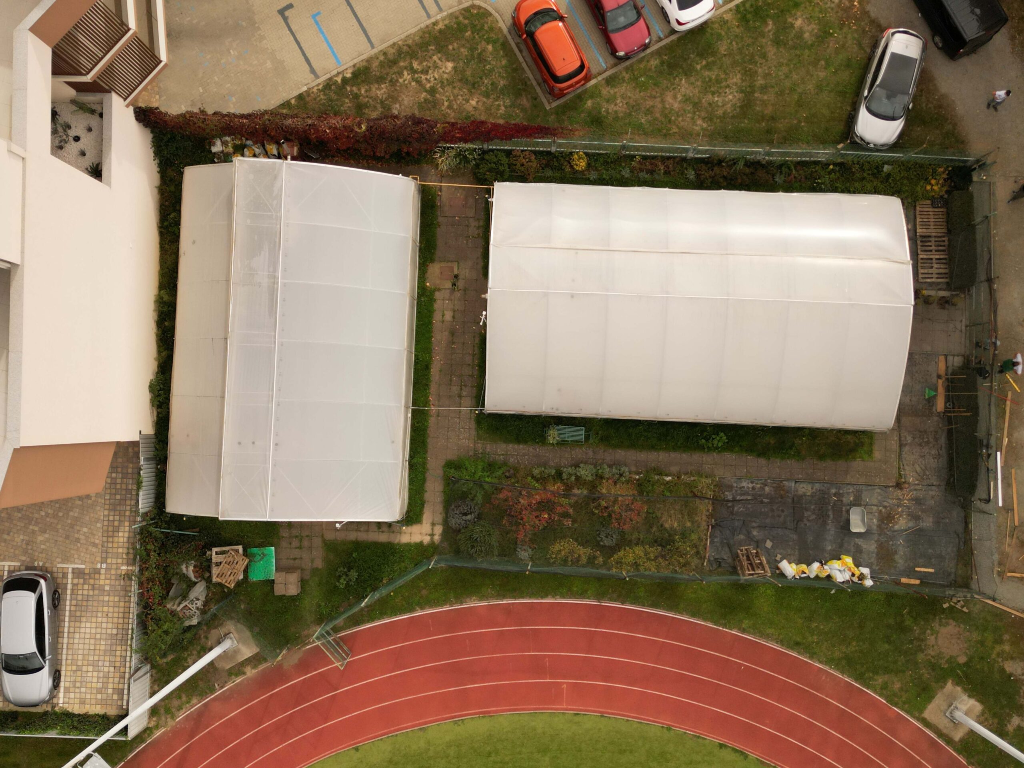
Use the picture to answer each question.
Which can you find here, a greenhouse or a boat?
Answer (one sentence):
The one in the frame is a greenhouse.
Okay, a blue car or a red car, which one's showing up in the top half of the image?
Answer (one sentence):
There is a red car in the top half of the image.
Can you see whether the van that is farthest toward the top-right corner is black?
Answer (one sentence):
Yes, the van that is farthest toward the top-right corner is black.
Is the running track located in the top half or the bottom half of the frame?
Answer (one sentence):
The bottom half of the photo is where the running track is.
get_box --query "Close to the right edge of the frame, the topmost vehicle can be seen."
[906,0,1017,63]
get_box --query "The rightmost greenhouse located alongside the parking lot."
[484,182,916,434]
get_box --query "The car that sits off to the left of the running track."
[0,572,67,703]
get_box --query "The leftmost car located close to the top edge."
[516,0,591,99]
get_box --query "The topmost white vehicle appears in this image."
[649,0,709,35]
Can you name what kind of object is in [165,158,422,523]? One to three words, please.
greenhouse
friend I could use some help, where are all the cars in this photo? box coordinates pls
[649,0,709,35]
[516,0,591,99]
[0,572,67,703]
[840,27,925,150]
[584,0,646,57]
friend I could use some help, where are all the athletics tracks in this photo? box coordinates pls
[118,596,975,768]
